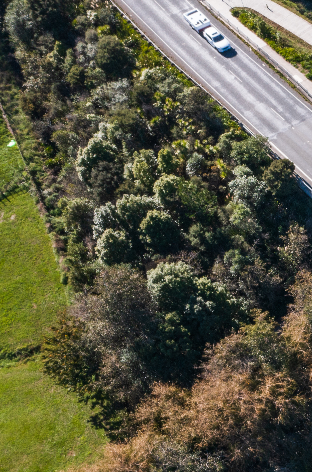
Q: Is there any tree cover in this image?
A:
Yes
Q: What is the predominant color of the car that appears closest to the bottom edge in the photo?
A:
white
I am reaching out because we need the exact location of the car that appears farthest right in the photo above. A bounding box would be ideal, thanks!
[205,30,233,55]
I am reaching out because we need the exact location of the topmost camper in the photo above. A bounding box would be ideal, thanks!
[183,8,214,36]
